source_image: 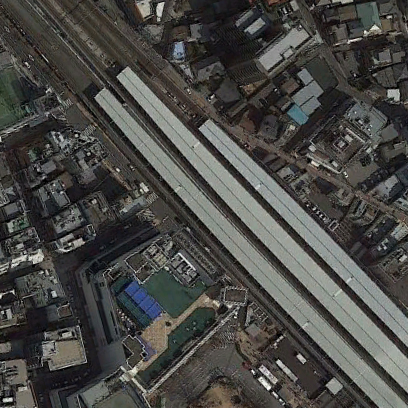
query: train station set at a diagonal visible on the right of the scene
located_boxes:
[91,67,408,408]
